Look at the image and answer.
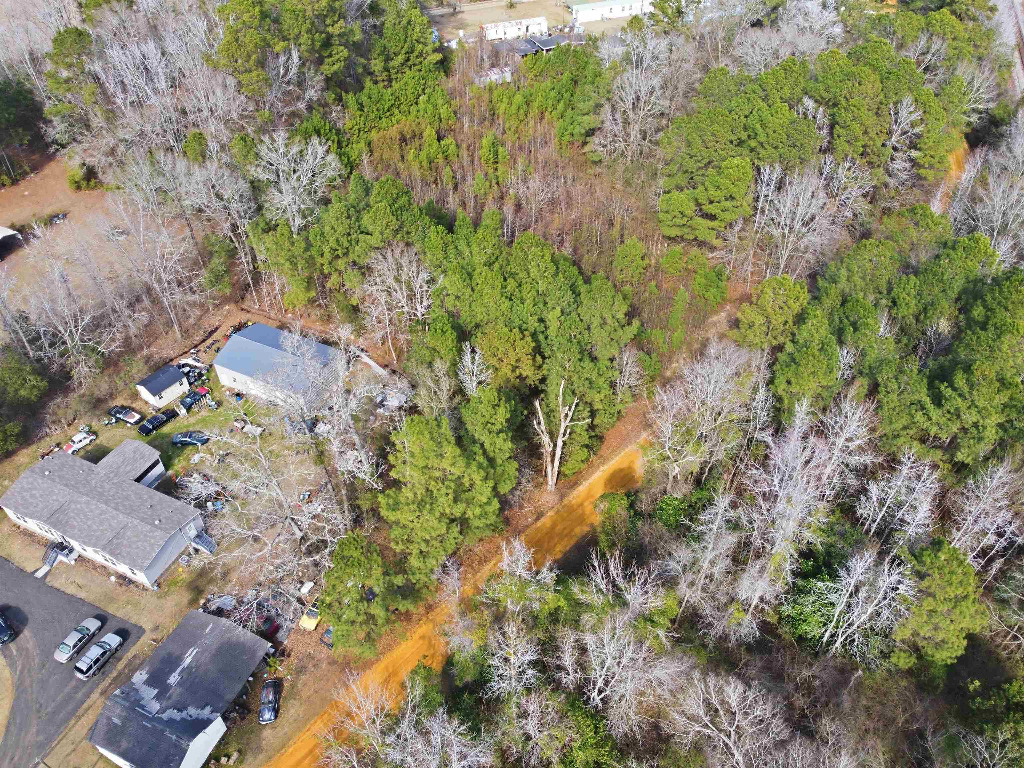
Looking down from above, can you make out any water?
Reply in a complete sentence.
No, no water is visible.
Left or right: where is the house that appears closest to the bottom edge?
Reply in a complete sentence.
It is on the left.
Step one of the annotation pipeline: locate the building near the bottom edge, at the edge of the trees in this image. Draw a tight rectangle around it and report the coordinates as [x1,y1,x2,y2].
[88,607,270,768]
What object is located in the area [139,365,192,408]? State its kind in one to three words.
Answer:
shed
